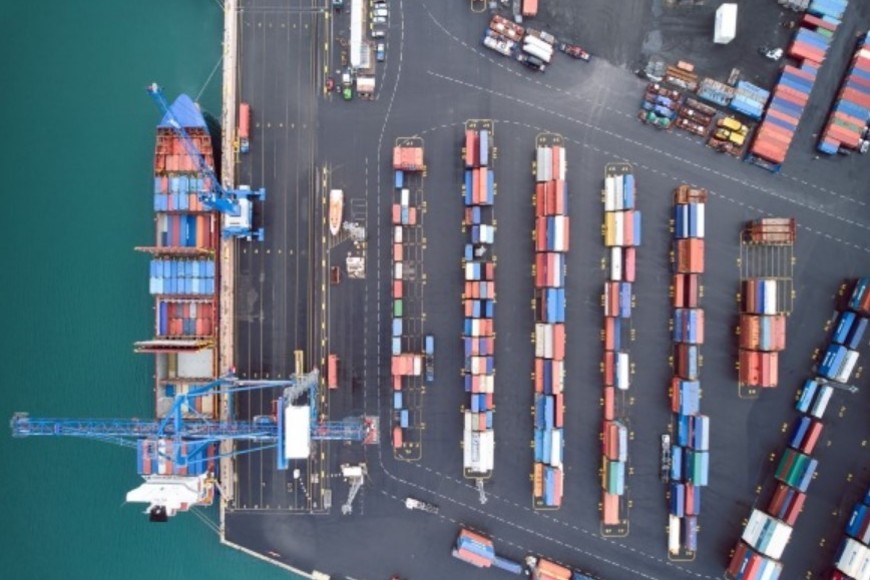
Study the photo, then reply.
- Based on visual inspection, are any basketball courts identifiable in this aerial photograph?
No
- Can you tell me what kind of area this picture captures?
port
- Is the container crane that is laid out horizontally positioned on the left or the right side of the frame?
left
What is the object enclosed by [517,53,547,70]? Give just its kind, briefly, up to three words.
vehicle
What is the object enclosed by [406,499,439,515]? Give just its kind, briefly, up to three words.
vehicle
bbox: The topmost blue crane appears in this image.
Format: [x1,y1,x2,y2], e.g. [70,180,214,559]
[146,86,267,241]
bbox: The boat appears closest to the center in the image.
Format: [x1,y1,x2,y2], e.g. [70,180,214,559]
[329,189,342,235]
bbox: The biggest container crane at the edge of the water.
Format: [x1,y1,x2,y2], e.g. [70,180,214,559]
[11,367,377,469]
